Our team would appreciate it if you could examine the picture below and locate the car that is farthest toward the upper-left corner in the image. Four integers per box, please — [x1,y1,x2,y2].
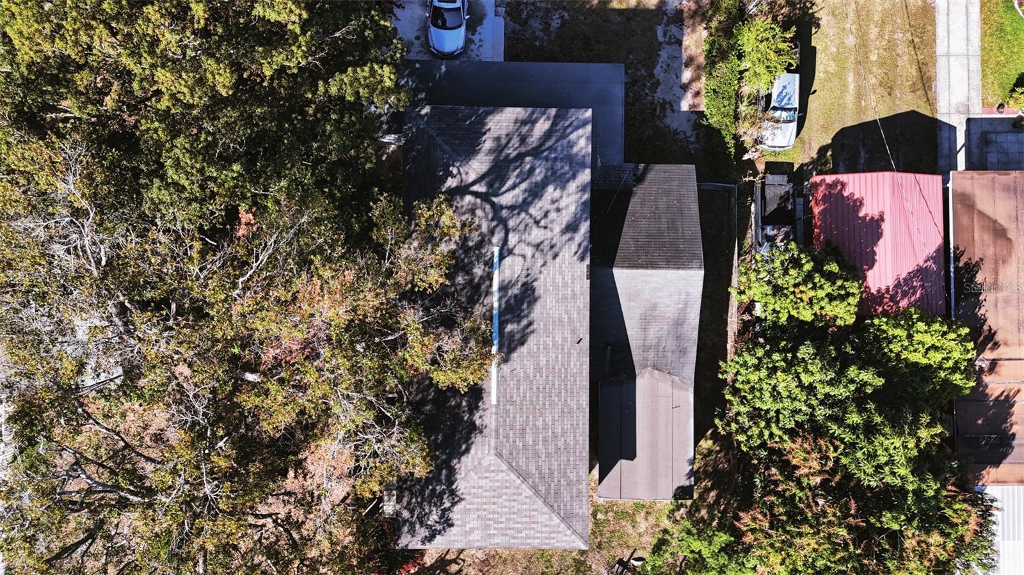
[421,0,473,59]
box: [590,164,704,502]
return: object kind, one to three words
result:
house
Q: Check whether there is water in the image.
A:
No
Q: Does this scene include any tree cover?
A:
Yes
